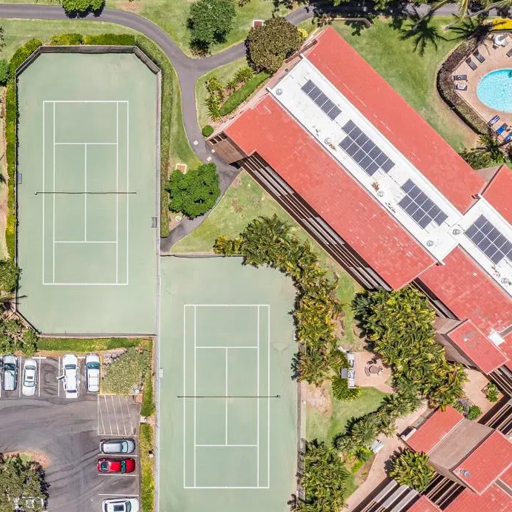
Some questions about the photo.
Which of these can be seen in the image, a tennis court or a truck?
tennis court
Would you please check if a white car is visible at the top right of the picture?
No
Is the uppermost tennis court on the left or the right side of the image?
left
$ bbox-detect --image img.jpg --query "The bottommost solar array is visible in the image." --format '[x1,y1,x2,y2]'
[464,215,512,267]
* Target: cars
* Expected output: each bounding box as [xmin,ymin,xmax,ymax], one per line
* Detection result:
[98,458,133,475]
[56,354,80,403]
[21,358,38,394]
[83,353,102,393]
[0,354,19,392]
[99,438,134,455]
[101,498,138,512]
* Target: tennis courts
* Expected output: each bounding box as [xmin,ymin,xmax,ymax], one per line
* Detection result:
[18,52,155,335]
[160,255,297,512]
